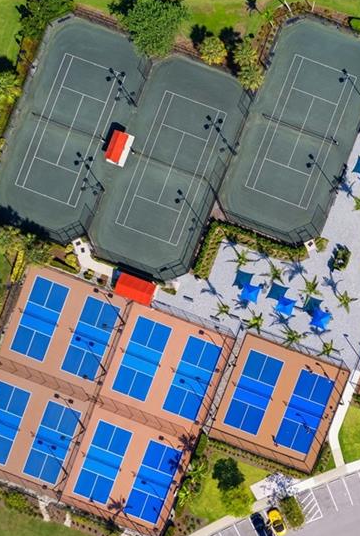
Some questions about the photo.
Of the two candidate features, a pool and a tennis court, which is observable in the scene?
tennis court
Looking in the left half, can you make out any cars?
No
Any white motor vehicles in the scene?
No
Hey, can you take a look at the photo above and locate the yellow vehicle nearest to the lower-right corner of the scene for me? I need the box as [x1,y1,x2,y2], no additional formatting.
[269,509,286,536]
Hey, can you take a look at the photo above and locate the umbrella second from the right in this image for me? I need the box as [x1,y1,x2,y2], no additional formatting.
[275,294,297,317]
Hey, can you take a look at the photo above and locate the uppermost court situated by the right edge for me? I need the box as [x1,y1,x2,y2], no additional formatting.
[217,16,360,243]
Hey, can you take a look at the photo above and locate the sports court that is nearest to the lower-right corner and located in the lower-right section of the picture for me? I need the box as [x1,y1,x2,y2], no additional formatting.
[274,369,334,455]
